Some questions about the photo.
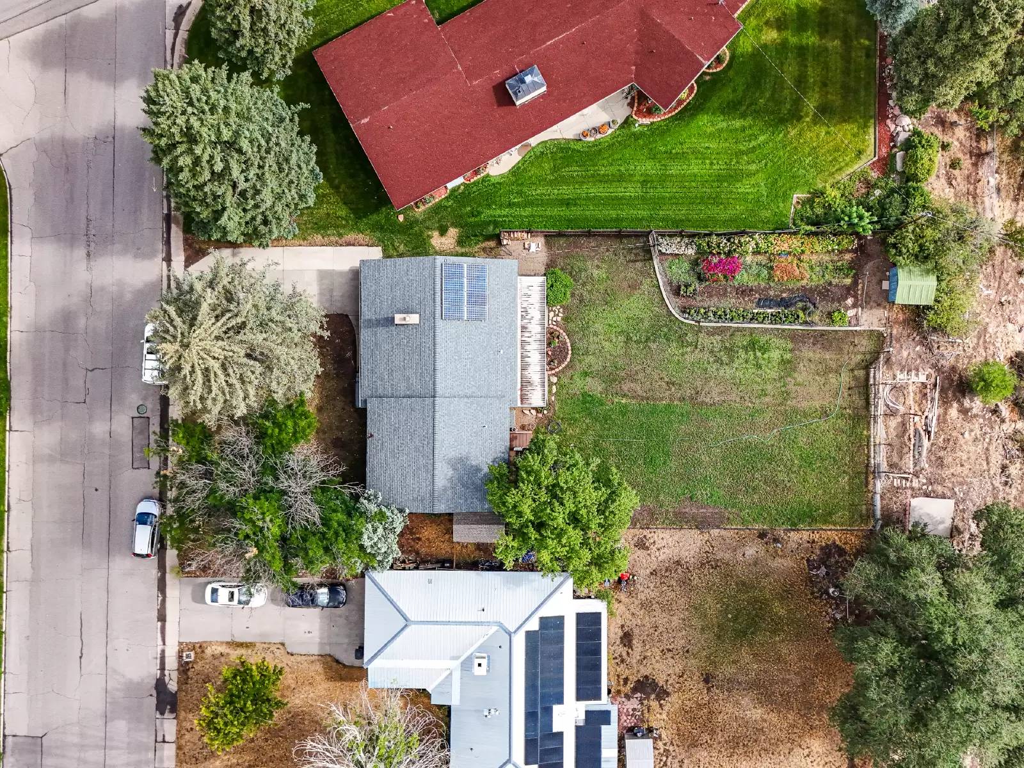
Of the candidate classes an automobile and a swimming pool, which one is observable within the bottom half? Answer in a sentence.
The feature located within the bottom half is an automobile.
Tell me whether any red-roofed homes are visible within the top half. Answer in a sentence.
Yes, a red-roofed home shows up within the top half.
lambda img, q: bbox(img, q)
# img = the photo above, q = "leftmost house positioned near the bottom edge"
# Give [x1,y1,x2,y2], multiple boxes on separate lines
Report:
[363,570,618,768]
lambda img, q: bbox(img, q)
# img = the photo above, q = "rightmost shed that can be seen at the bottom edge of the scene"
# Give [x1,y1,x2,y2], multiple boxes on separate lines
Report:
[625,736,654,768]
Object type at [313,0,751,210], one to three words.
house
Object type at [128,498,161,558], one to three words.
car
